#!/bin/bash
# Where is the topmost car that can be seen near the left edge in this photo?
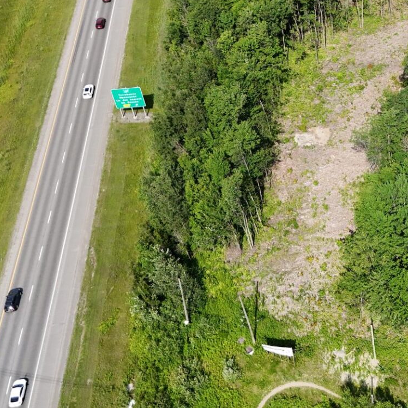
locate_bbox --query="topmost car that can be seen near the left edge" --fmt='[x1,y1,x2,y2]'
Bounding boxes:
[3,286,22,312]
